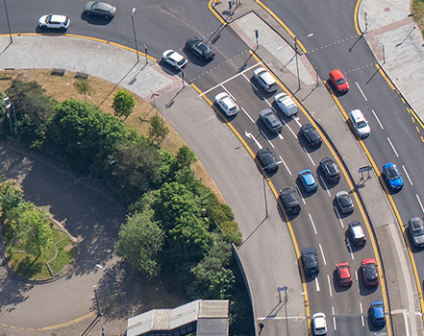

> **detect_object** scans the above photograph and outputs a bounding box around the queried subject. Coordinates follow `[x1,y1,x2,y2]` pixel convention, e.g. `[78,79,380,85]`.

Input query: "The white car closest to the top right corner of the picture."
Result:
[349,109,371,137]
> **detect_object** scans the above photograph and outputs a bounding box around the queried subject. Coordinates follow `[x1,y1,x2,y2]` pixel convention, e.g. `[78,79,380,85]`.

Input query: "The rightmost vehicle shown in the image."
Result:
[408,217,424,247]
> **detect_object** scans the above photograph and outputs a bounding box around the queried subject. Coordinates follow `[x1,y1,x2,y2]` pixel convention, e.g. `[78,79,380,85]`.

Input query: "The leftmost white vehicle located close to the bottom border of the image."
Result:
[310,312,327,336]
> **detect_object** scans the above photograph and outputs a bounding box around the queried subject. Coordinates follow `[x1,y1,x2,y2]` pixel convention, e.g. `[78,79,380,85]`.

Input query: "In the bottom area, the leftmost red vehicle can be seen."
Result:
[335,263,352,288]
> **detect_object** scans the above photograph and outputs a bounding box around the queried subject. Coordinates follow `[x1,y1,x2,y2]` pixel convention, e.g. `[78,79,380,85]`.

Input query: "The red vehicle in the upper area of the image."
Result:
[328,68,349,94]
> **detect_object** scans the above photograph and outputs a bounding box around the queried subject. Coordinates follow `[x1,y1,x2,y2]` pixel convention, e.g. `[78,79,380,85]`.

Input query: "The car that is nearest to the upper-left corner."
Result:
[37,13,70,31]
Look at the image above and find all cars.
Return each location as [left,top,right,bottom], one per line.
[160,51,187,70]
[348,223,365,247]
[213,91,240,119]
[278,186,300,216]
[300,249,319,276]
[349,109,371,137]
[184,39,216,62]
[382,163,403,190]
[259,109,284,136]
[82,1,118,20]
[319,157,341,186]
[299,122,323,149]
[310,312,327,336]
[274,91,300,119]
[297,170,317,195]
[336,192,352,215]
[251,67,279,93]
[368,304,384,328]
[37,13,70,31]
[328,68,349,94]
[361,259,378,287]
[335,263,352,288]
[408,217,424,247]
[256,147,279,176]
